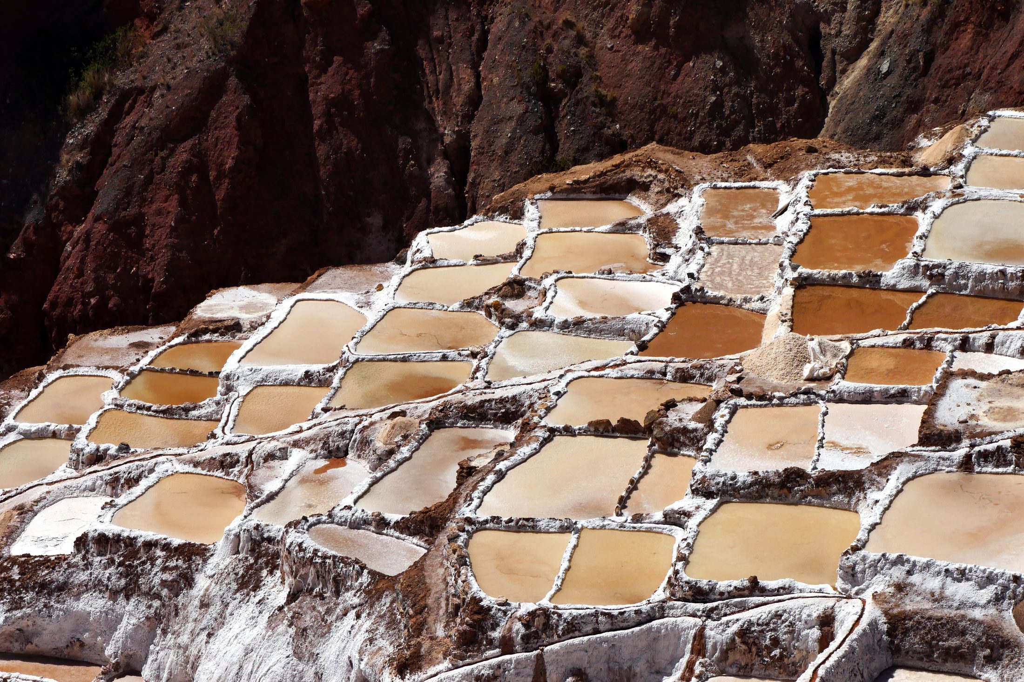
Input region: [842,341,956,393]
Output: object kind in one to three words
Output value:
pond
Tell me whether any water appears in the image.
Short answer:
Yes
